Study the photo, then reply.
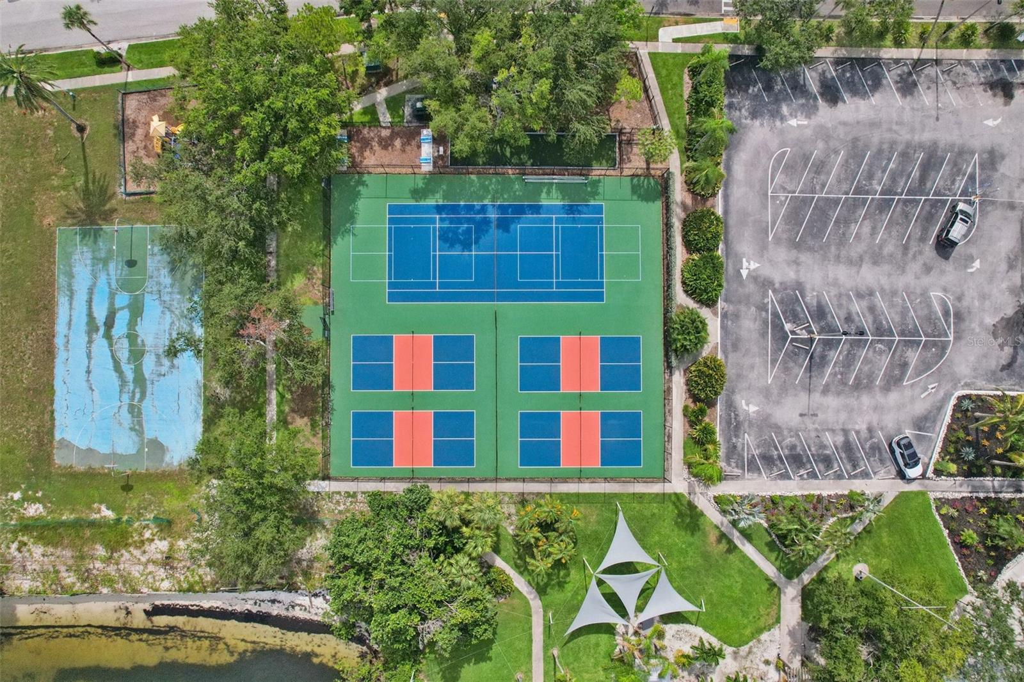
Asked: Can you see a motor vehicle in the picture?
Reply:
Yes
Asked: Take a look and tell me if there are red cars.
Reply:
No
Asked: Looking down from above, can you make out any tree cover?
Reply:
Yes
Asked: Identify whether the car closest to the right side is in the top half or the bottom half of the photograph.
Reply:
top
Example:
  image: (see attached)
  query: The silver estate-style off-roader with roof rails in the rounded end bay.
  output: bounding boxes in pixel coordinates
[935,204,969,251]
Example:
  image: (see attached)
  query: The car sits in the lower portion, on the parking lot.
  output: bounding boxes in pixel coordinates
[889,432,921,477]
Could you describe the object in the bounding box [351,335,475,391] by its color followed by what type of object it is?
blue sports court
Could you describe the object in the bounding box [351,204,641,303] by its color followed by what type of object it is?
blue tennis court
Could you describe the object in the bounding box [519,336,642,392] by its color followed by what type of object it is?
blue sports court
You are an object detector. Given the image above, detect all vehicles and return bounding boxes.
[889,432,921,477]
[935,204,969,251]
